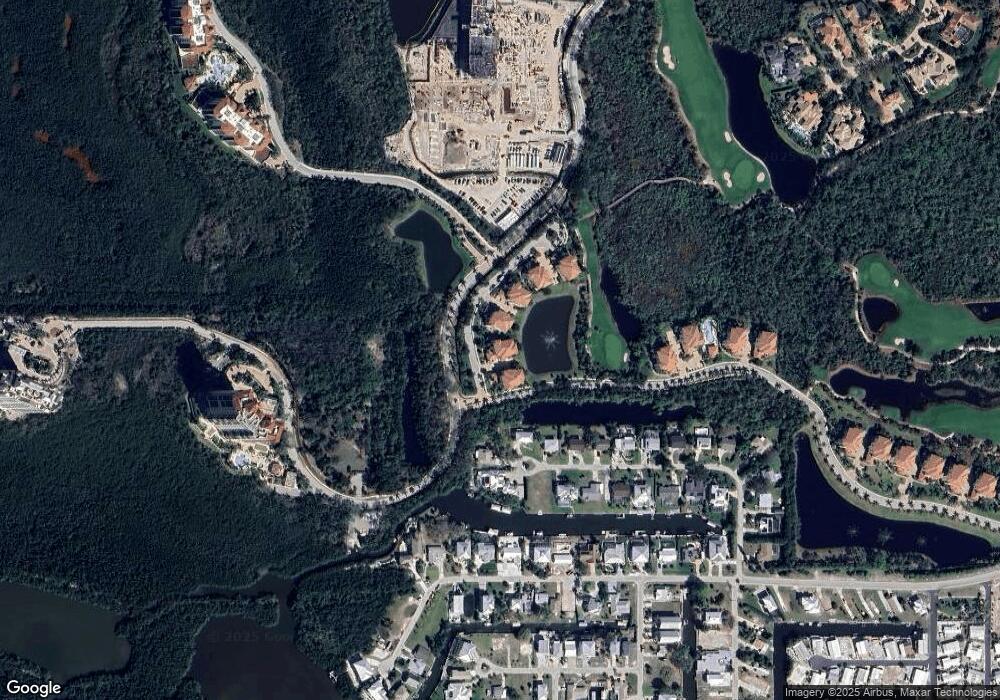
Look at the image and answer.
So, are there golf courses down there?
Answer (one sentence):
Yes, the photo shows a golf course.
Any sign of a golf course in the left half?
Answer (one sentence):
No, in the left half there is no golf course.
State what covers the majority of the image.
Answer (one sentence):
The largest share of the image is taken up by trees.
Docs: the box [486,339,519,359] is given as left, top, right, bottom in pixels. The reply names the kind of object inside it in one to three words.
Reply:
house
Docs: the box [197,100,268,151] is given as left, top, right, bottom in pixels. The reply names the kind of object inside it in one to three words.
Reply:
building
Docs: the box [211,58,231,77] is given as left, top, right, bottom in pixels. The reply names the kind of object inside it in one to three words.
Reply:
swimming pool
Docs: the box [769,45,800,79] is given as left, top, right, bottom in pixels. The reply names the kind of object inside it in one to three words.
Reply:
house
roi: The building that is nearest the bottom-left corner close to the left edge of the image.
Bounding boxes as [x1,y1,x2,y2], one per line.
[0,382,65,413]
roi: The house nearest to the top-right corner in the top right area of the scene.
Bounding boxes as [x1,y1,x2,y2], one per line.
[939,12,975,47]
